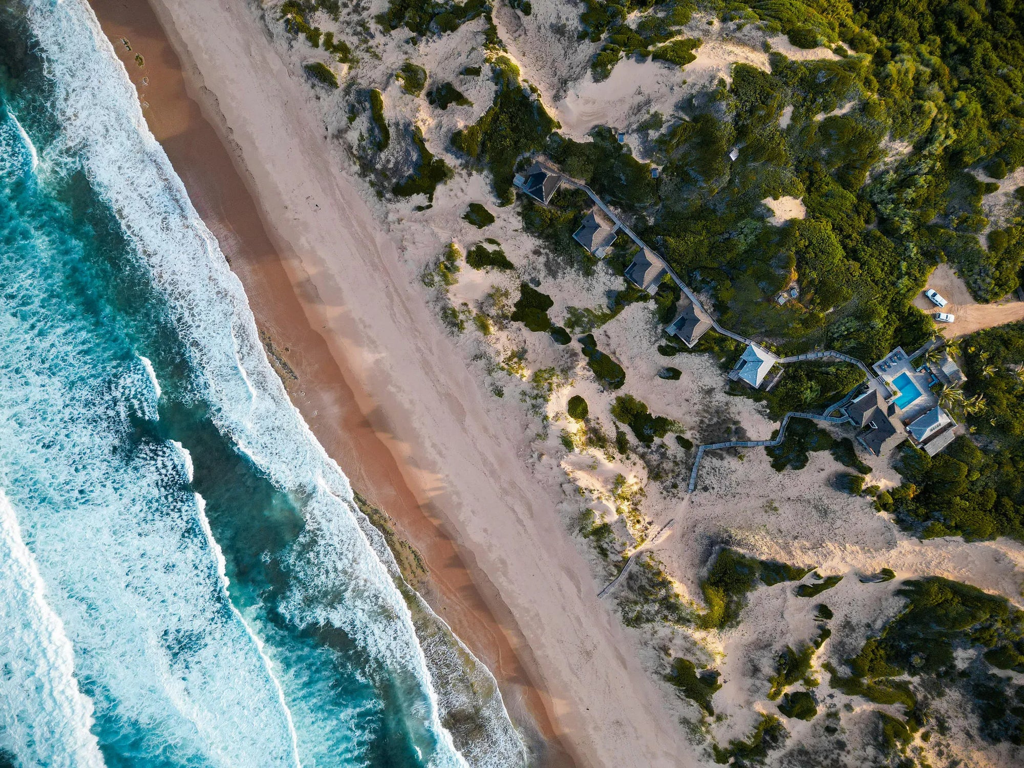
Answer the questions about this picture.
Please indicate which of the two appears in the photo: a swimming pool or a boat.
swimming pool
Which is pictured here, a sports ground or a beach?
beach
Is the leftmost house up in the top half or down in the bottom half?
top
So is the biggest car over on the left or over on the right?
right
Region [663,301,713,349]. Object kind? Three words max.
house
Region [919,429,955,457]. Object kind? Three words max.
shed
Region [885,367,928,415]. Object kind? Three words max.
swimming pool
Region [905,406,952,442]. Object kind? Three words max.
building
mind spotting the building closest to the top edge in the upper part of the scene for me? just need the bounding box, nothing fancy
[513,158,564,206]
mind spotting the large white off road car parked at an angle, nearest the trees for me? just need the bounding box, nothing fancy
[924,288,951,308]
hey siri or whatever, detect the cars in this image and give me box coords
[924,288,951,308]
[934,313,953,323]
